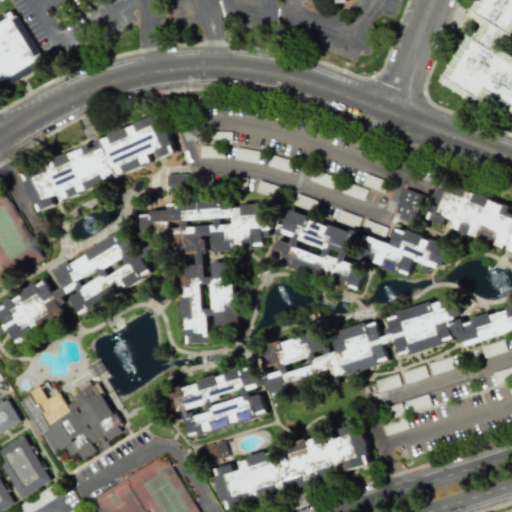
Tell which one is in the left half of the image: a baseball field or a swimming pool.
swimming pool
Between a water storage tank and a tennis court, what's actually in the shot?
tennis court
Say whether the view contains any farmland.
No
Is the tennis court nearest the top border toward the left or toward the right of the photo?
left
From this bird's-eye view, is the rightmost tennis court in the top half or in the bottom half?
bottom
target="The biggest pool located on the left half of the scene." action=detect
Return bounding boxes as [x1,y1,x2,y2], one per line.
[39,341,82,376]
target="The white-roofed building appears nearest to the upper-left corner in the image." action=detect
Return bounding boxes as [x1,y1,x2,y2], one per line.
[0,11,41,88]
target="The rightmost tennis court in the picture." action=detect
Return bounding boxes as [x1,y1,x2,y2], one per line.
[128,459,192,512]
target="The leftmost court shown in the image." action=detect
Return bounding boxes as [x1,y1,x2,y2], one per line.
[0,194,40,272]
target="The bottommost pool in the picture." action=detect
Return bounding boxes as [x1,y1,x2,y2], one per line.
[239,435,264,452]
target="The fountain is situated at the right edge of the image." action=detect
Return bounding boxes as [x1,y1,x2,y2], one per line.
[486,263,512,298]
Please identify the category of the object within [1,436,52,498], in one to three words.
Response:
house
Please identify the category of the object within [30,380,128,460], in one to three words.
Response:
building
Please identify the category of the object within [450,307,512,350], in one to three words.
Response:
building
